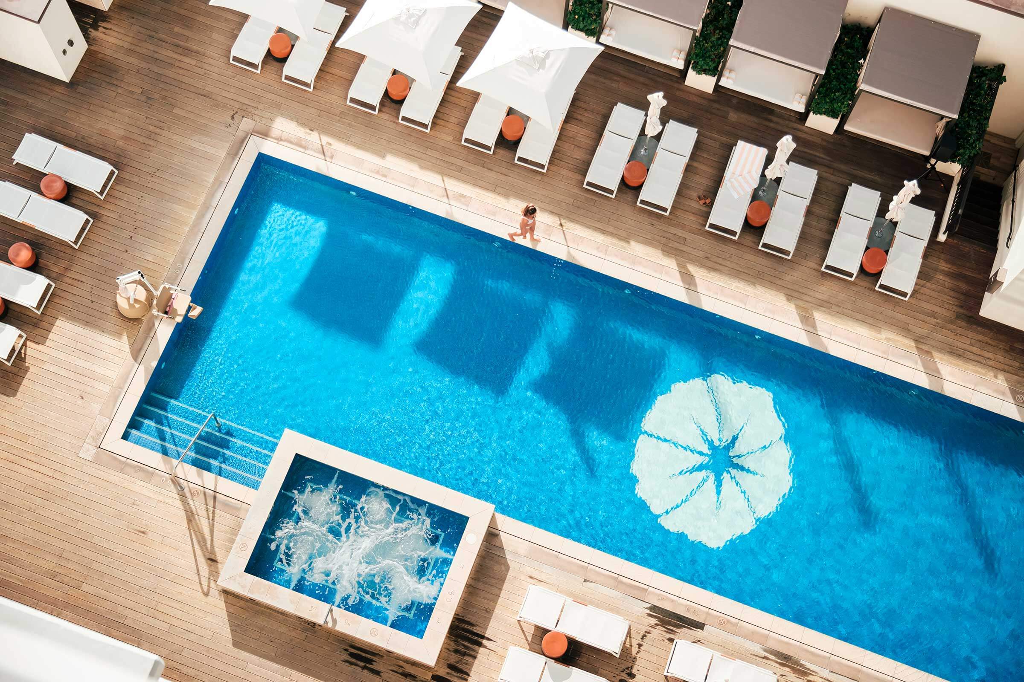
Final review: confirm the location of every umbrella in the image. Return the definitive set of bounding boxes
[209,0,320,47]
[457,1,604,132]
[865,171,920,251]
[748,129,801,209]
[628,84,668,170]
[336,0,482,88]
